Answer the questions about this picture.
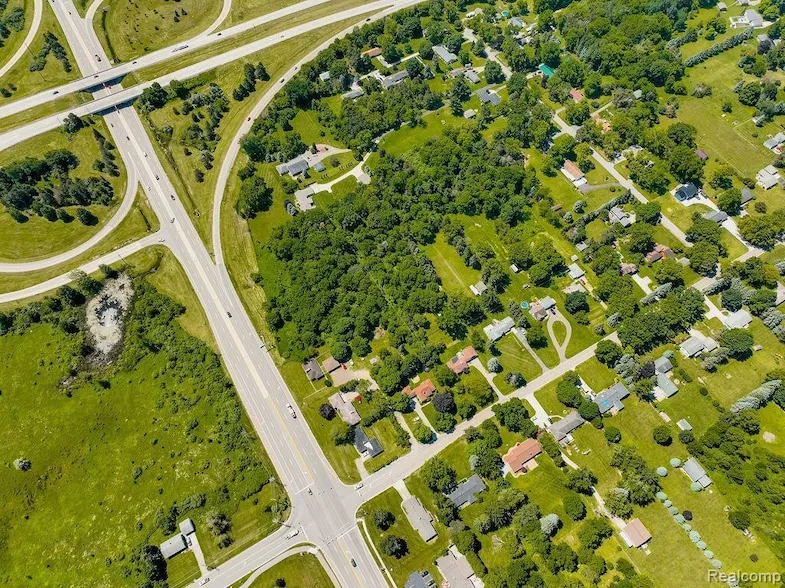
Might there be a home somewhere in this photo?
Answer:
Yes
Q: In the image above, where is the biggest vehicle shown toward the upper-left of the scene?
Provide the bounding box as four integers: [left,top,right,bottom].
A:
[170,41,191,53]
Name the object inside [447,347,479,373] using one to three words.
house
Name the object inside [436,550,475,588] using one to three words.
house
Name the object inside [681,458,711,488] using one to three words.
barn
